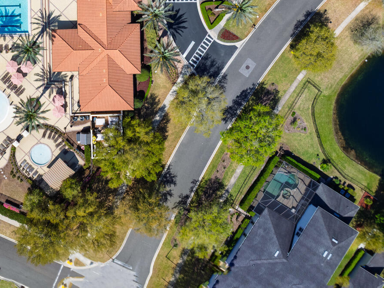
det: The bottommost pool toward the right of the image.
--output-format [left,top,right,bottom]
[264,172,301,201]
